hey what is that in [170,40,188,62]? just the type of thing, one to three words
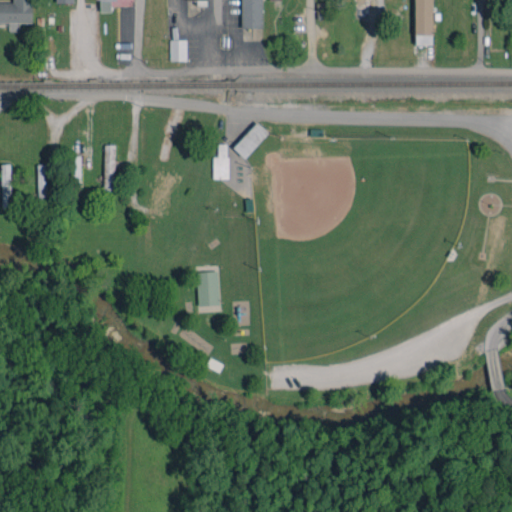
building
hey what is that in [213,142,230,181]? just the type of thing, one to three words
building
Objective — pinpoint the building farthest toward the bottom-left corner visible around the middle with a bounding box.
[196,265,222,313]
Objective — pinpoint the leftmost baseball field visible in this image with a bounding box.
[258,138,468,362]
